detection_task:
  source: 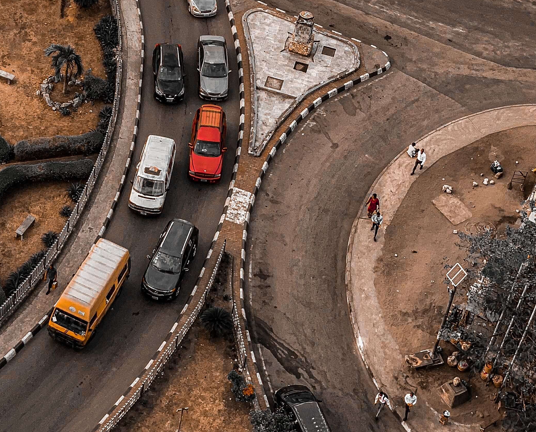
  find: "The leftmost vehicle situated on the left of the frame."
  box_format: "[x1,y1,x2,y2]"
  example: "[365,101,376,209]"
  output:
[48,234,132,353]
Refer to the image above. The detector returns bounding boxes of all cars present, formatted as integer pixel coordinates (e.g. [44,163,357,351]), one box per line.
[185,105,230,183]
[194,36,234,100]
[185,0,217,19]
[142,214,201,302]
[150,38,190,105]
[271,381,331,432]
